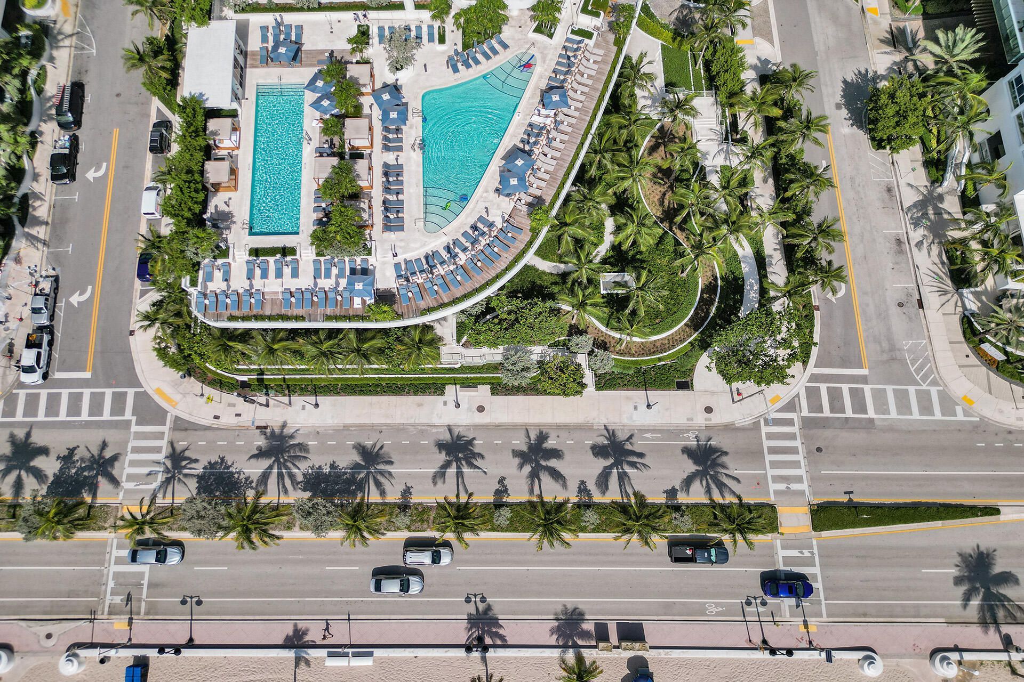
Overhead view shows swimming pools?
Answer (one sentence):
Yes, you can see a swimming pool in this photo.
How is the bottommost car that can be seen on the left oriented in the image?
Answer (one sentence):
The bottommost car that can be seen on the left has been laid out from side to side relative to the frame.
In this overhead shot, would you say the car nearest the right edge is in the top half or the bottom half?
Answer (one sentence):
The car nearest the right edge sits in the bottom half of the picture.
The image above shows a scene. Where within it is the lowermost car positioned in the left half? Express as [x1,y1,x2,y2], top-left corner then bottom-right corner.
[371,572,424,598]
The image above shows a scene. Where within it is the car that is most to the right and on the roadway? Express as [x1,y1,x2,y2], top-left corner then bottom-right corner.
[761,576,811,601]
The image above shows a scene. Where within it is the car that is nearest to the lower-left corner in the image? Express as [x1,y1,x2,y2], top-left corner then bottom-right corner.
[128,542,185,569]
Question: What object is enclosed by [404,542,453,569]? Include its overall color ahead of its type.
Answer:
white car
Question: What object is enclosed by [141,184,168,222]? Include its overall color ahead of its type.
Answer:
white car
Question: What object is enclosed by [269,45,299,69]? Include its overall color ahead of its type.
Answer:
blue umbrella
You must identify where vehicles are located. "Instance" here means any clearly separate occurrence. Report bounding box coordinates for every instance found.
[52,82,84,132]
[666,541,727,568]
[23,328,57,385]
[141,184,168,222]
[50,137,81,188]
[371,572,424,598]
[761,576,811,601]
[404,542,453,569]
[128,542,185,569]
[150,122,172,157]
[135,251,157,287]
